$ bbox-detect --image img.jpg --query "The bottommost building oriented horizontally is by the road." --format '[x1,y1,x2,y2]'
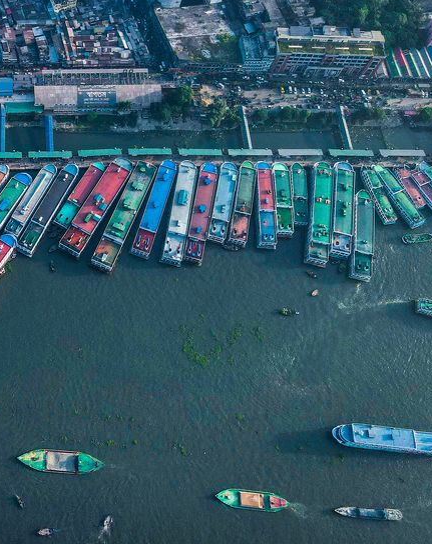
[33,84,165,115]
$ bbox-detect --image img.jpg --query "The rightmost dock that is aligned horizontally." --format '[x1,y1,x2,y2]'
[372,147,429,169]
